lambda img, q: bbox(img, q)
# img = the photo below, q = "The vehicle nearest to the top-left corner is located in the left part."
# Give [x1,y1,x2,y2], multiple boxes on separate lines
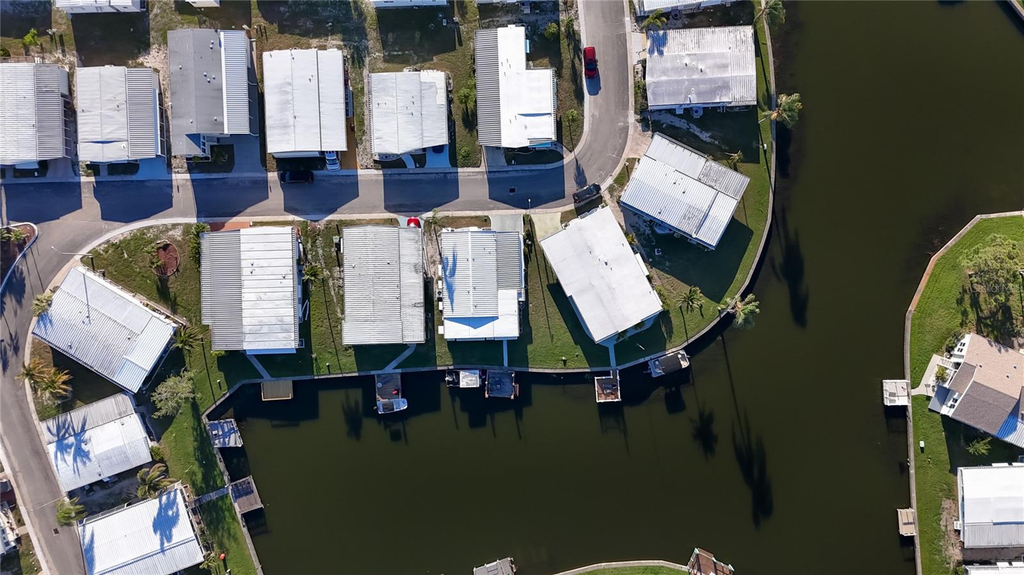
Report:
[279,168,313,184]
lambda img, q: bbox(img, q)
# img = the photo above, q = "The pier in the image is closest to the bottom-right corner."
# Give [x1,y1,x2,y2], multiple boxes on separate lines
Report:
[896,509,919,537]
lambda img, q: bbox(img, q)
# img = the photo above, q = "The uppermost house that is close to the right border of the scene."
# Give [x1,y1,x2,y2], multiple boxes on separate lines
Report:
[927,333,1024,449]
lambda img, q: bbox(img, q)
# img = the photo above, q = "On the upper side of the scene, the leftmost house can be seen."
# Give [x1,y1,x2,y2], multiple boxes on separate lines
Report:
[0,63,77,168]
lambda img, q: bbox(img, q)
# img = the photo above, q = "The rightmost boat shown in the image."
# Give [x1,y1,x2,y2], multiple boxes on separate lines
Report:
[646,351,690,377]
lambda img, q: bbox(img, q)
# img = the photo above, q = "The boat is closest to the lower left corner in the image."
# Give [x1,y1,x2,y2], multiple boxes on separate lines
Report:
[373,400,409,416]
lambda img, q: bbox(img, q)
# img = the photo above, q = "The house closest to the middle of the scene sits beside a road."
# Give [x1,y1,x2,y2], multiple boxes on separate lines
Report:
[438,226,524,341]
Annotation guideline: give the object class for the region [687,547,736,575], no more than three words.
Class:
pier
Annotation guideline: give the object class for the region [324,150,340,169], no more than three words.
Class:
car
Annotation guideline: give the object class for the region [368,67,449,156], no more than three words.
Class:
house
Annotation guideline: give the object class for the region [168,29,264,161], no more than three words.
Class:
house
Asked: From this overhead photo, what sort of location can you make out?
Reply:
residential area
